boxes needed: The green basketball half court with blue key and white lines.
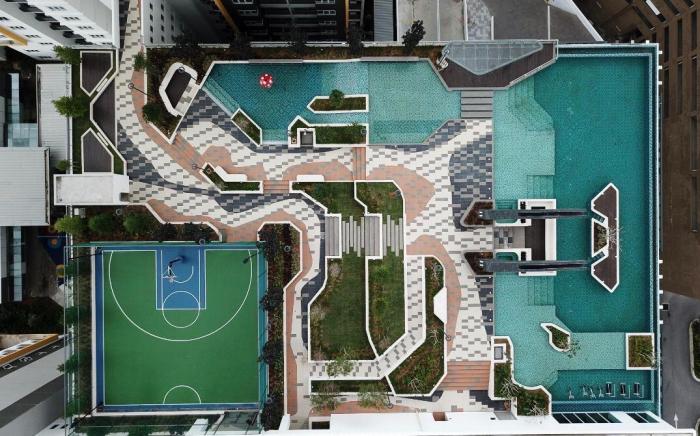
[92,243,265,415]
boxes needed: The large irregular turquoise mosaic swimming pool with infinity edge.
[202,40,665,422]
